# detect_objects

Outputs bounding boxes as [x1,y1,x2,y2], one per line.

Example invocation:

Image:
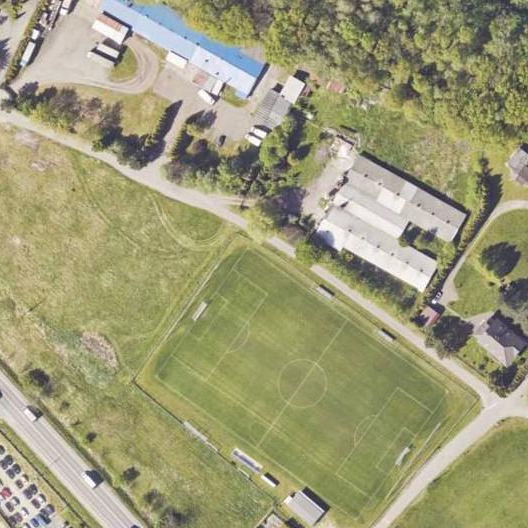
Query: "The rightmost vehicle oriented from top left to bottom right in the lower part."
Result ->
[83,470,99,489]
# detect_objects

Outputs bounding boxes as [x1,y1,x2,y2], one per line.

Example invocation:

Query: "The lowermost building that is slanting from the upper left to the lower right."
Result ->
[283,490,328,525]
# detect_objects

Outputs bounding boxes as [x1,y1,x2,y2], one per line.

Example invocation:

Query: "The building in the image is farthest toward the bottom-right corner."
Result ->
[477,318,528,366]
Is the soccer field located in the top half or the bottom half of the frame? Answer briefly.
bottom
